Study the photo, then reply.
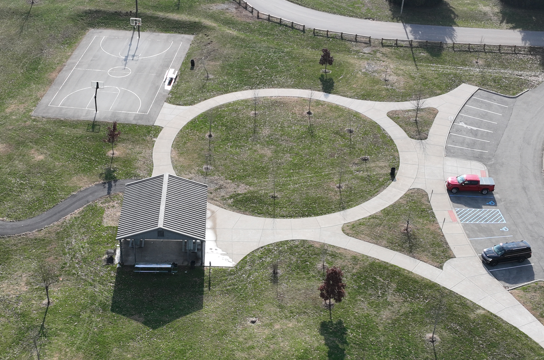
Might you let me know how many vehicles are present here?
2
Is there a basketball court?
Yes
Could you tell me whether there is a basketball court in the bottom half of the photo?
No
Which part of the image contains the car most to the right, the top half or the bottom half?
bottom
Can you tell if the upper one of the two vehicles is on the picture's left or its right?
right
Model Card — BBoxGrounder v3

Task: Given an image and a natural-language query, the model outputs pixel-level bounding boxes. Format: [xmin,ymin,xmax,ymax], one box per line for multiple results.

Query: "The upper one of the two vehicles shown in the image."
[445,174,495,194]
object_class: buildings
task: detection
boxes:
[116,171,208,263]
